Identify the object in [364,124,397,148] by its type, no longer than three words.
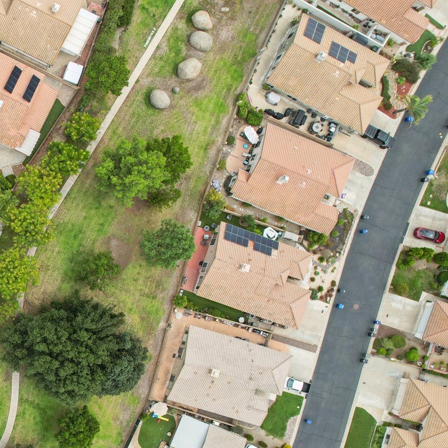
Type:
vehicle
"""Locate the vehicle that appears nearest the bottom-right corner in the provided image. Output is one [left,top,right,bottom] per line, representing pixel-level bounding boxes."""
[285,377,314,395]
